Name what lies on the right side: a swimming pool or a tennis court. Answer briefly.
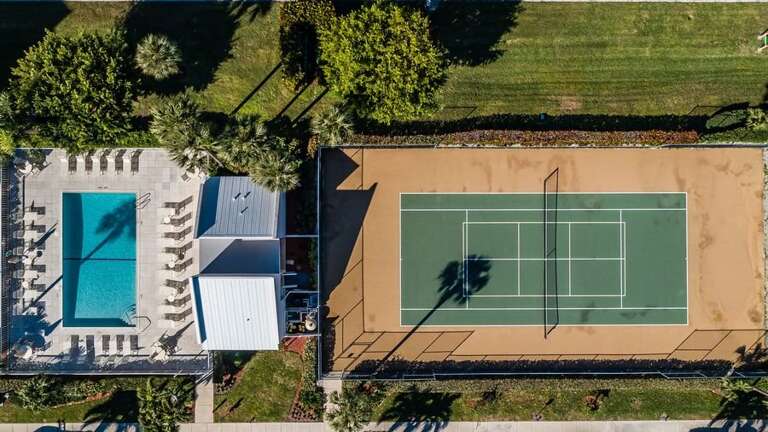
tennis court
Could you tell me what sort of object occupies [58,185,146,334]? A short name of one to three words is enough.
swimming pool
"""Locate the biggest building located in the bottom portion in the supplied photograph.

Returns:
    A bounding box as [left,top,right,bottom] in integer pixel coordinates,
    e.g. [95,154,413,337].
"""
[188,172,290,351]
